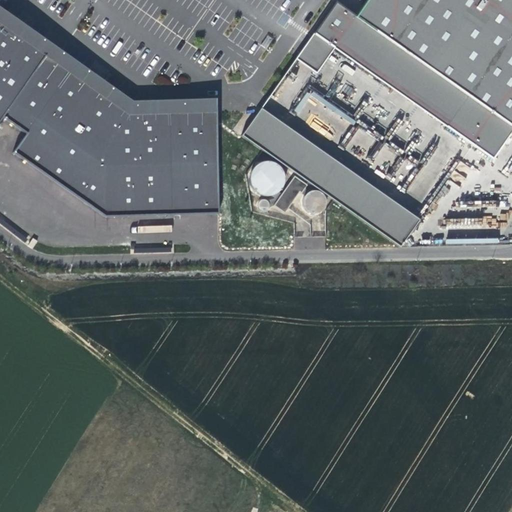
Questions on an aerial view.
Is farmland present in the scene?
Yes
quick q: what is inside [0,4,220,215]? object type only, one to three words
building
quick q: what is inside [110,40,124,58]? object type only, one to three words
vehicle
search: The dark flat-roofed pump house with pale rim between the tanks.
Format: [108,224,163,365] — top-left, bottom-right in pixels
[274,176,308,212]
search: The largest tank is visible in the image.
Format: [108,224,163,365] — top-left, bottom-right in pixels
[251,160,286,196]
